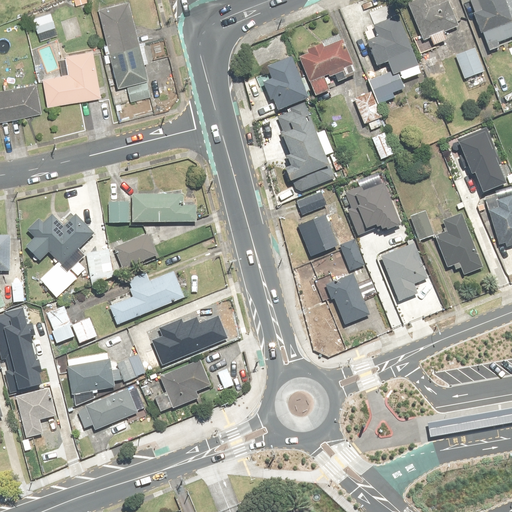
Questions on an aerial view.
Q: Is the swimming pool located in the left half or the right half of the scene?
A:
left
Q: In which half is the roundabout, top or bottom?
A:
bottom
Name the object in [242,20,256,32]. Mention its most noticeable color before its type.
white vehicle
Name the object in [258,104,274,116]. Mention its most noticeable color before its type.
white vehicle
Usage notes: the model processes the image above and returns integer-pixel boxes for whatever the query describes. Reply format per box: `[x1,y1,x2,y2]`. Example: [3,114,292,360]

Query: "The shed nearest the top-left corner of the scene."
[33,13,58,41]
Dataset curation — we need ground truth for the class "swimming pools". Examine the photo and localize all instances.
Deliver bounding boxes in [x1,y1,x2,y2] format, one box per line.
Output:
[38,44,60,74]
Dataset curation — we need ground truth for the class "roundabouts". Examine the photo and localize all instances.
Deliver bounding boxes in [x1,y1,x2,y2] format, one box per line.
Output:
[274,377,329,432]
